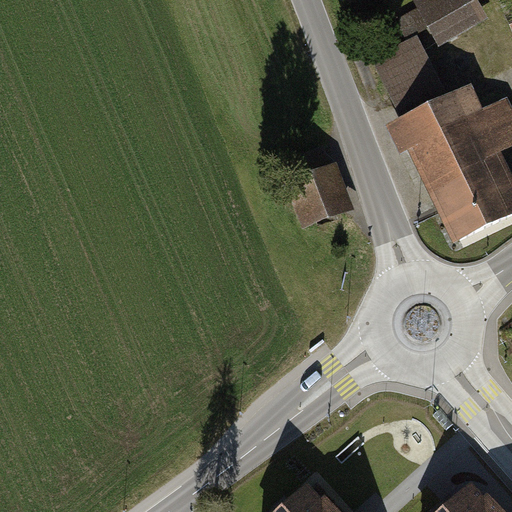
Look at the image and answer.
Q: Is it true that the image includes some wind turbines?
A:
No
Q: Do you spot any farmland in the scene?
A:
Yes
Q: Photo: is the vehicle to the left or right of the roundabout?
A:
on its left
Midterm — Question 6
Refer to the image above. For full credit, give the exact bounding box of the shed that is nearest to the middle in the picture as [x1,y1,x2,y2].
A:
[290,166,356,229]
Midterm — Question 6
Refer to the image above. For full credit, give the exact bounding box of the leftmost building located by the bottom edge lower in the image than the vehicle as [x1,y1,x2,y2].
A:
[276,482,348,512]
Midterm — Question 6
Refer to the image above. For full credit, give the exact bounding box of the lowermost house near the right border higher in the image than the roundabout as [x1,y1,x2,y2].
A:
[384,87,512,248]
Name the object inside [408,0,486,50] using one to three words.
barn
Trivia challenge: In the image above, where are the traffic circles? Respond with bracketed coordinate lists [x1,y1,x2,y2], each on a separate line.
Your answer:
[330,234,512,456]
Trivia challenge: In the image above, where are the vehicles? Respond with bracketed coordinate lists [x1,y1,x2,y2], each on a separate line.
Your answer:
[300,370,322,393]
